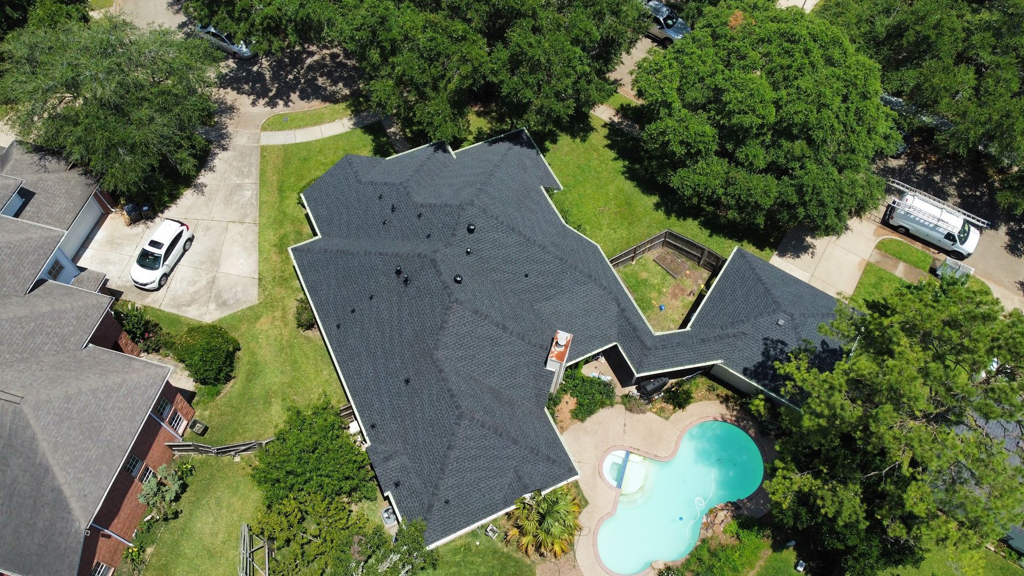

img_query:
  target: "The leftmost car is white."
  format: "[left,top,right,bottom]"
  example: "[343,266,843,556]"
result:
[125,218,193,293]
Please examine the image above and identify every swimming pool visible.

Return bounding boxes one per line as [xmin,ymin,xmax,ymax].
[591,415,770,576]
